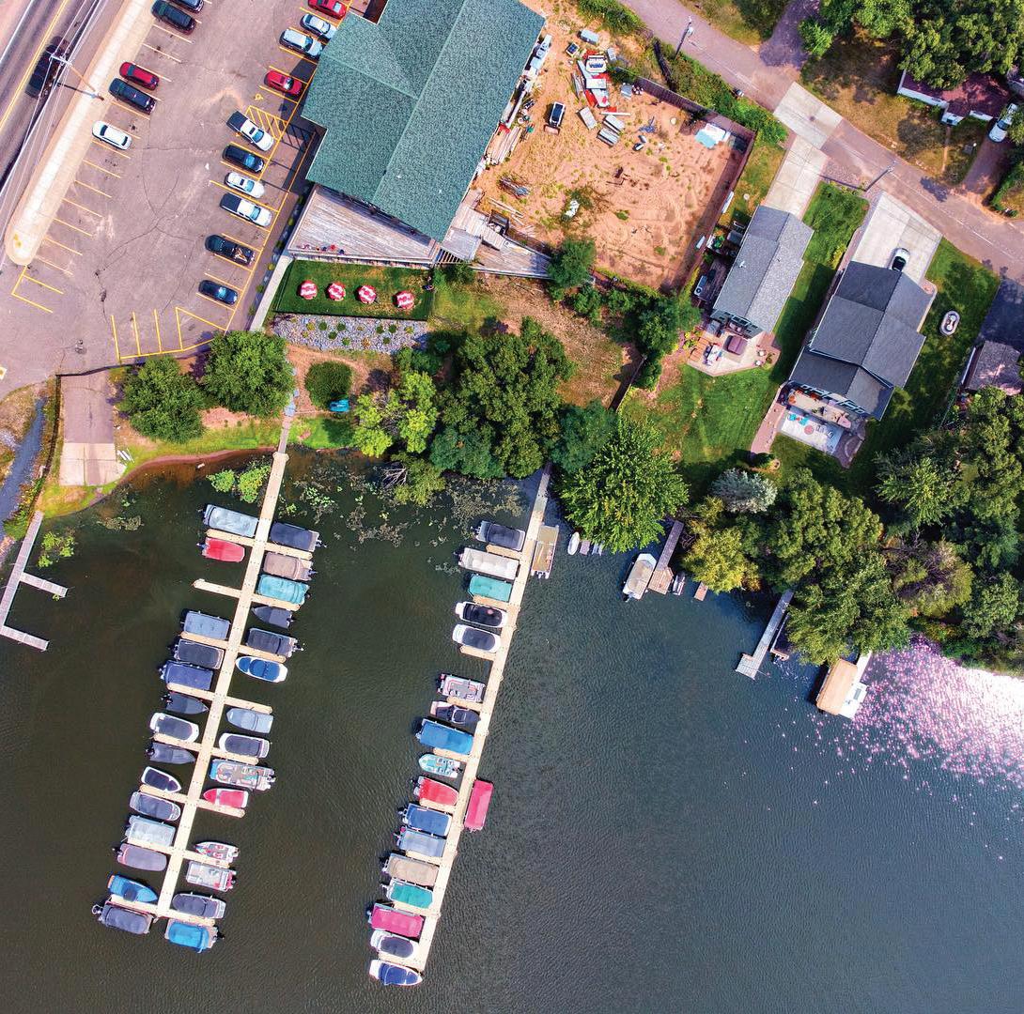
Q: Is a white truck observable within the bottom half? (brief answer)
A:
No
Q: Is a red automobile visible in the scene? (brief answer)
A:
Yes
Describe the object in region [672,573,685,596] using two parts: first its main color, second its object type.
white vessel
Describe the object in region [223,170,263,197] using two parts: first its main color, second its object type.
white car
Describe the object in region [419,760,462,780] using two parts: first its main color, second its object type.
white boat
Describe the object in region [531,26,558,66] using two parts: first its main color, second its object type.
white truck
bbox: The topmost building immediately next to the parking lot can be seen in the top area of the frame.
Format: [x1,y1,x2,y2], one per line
[300,0,546,242]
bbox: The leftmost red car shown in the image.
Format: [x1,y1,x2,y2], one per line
[118,60,157,88]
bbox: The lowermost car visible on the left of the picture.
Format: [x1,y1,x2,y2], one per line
[197,278,236,304]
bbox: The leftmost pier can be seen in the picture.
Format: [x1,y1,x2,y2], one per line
[0,514,69,651]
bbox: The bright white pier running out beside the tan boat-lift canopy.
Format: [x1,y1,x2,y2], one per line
[844,650,876,720]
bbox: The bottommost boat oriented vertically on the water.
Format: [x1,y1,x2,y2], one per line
[466,781,493,834]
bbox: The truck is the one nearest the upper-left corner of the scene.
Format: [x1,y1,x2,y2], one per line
[20,38,60,95]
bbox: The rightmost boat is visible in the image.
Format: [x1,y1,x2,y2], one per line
[941,311,960,334]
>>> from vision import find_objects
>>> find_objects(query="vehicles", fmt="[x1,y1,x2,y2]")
[223,170,263,197]
[522,95,536,109]
[108,78,154,109]
[20,38,60,95]
[118,60,157,88]
[298,9,337,38]
[219,190,269,223]
[224,107,272,147]
[889,247,911,273]
[203,233,253,263]
[167,0,203,13]
[545,98,566,132]
[197,278,236,304]
[90,120,129,148]
[221,141,263,171]
[150,0,195,29]
[263,68,301,94]
[531,26,558,66]
[306,0,346,18]
[278,25,320,55]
